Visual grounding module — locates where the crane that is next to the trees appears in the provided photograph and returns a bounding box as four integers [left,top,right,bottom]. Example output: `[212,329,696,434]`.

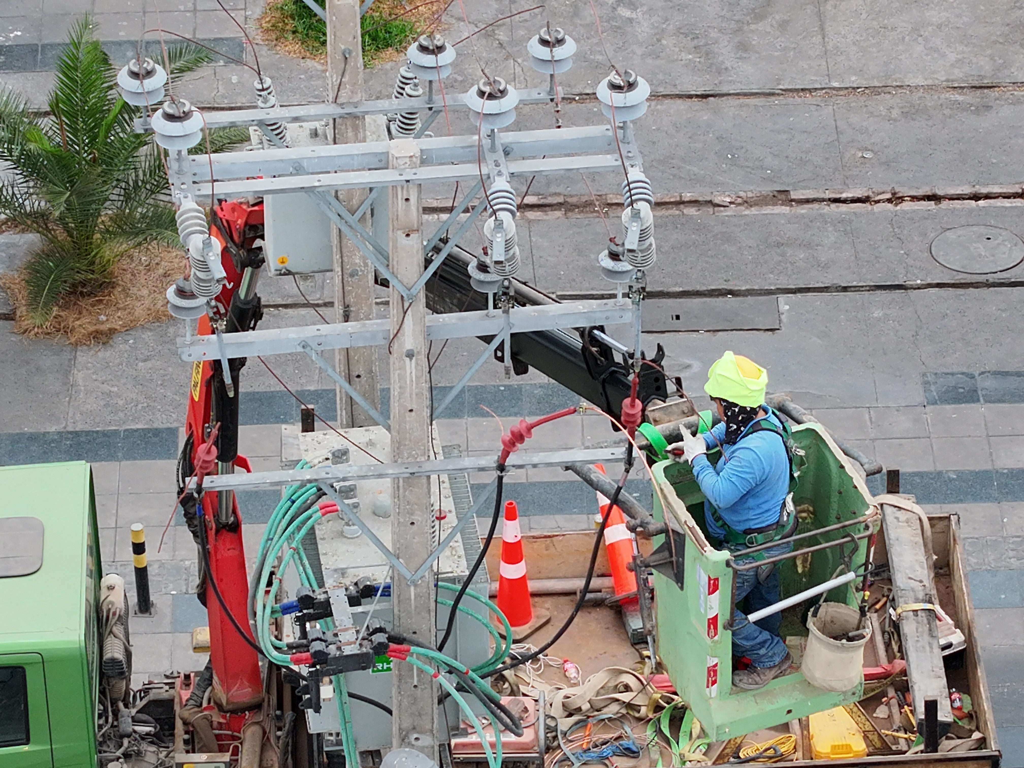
[178,172,692,768]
